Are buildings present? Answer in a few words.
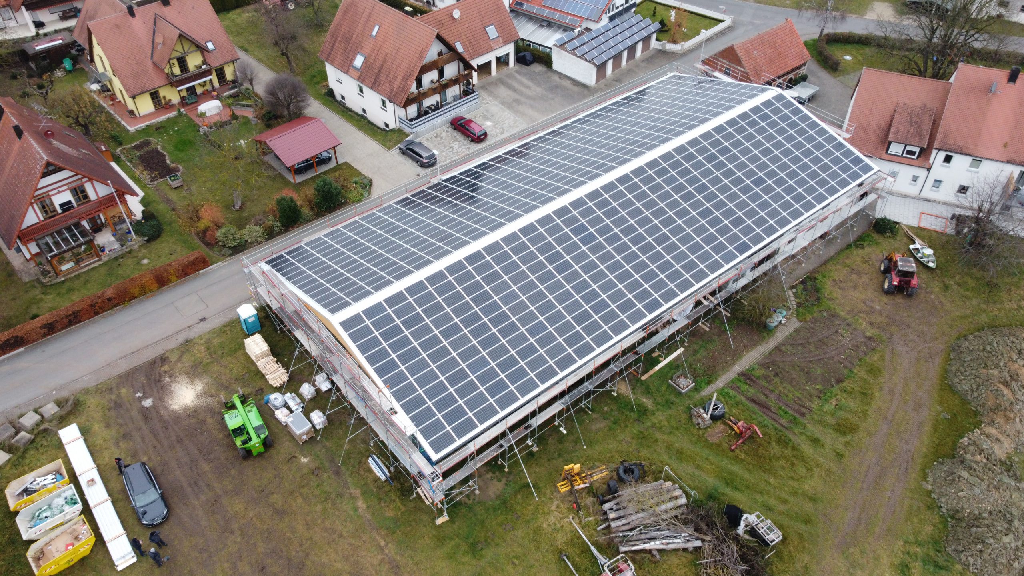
Yes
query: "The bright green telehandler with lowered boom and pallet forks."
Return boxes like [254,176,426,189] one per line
[217,391,275,460]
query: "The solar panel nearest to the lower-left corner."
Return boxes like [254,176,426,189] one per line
[287,415,308,438]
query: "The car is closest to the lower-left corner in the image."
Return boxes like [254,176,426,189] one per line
[118,461,172,528]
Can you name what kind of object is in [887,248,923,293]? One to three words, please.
work vehicle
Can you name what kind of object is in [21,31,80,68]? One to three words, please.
shed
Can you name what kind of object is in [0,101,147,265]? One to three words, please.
house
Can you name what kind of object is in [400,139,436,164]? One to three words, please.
car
